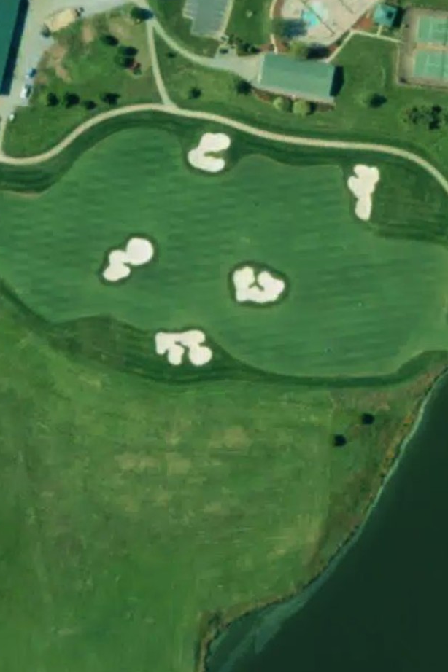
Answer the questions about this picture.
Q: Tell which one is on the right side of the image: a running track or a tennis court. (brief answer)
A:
tennis court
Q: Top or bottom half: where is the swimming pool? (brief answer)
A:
top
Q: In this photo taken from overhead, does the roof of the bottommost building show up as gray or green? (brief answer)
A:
green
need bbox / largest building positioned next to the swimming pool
[256,52,336,95]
